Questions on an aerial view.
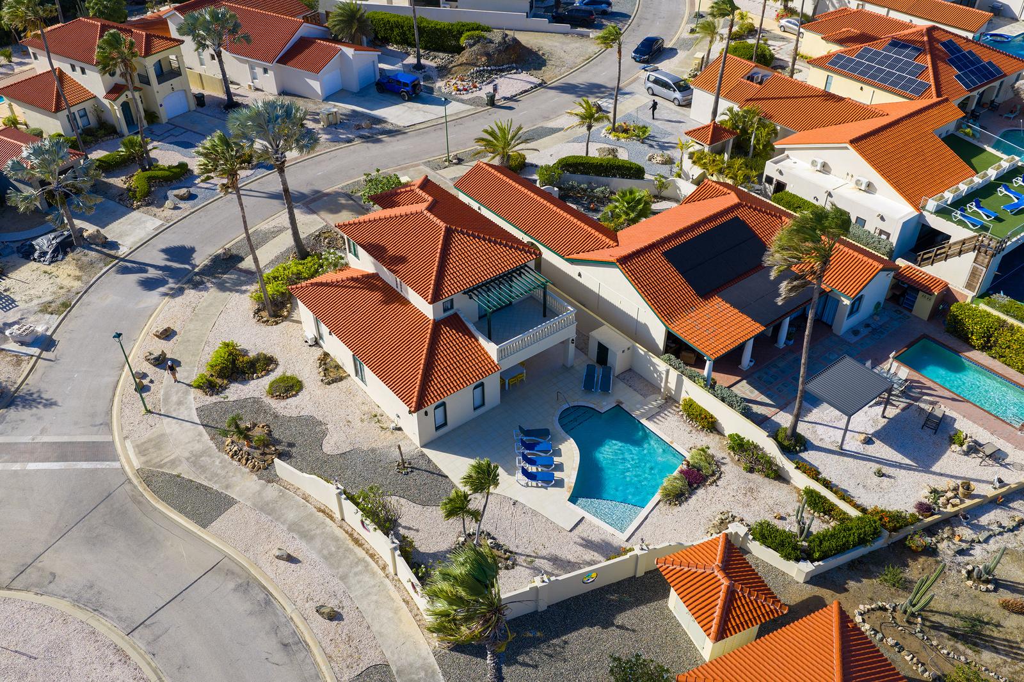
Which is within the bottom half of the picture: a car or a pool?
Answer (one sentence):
The one visible within the bottom half of the picture is a pool.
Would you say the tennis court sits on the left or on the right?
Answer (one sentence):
The tennis court is on the right side of the image.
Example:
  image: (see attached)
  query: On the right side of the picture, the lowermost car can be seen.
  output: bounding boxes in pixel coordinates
[640,64,695,106]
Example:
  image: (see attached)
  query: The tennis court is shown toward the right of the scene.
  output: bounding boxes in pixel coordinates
[974,255,1024,305]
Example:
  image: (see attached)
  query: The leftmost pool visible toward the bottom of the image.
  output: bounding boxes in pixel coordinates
[552,391,693,541]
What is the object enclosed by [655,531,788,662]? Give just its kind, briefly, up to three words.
shed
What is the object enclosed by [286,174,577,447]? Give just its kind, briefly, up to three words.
house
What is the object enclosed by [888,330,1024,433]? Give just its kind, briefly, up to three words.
swimming pool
